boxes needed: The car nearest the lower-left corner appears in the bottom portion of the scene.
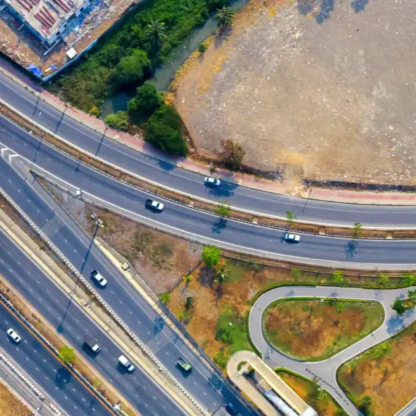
[6,329,21,343]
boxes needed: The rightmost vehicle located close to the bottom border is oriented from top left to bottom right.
[223,401,239,415]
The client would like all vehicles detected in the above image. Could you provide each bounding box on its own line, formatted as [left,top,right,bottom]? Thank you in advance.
[6,329,21,343]
[83,339,99,356]
[174,355,193,373]
[145,200,163,209]
[117,356,134,371]
[204,177,221,186]
[90,269,106,286]
[284,234,301,241]
[223,401,239,415]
